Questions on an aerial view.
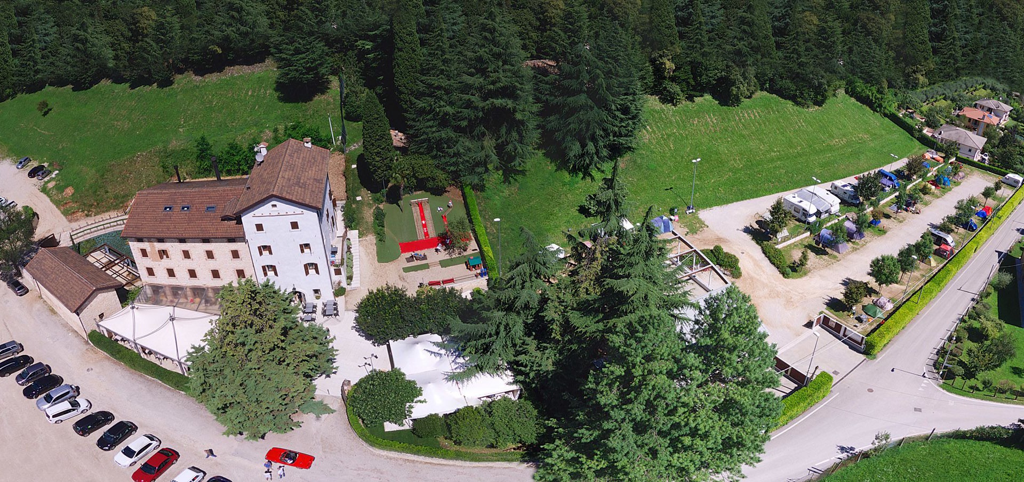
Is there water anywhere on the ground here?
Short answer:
No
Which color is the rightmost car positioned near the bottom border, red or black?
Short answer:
red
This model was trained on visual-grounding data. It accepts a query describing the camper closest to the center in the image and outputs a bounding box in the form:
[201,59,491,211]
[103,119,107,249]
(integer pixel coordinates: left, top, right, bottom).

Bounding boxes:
[543,241,565,265]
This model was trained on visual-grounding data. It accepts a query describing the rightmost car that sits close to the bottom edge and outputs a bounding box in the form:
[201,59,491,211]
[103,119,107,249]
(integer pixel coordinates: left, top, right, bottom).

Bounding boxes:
[267,447,317,475]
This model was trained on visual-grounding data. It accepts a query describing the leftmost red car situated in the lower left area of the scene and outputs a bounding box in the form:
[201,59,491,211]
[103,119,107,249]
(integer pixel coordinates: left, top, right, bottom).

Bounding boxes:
[130,449,183,482]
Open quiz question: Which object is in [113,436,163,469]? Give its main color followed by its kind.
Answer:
white car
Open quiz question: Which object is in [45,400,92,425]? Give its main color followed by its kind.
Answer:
white car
